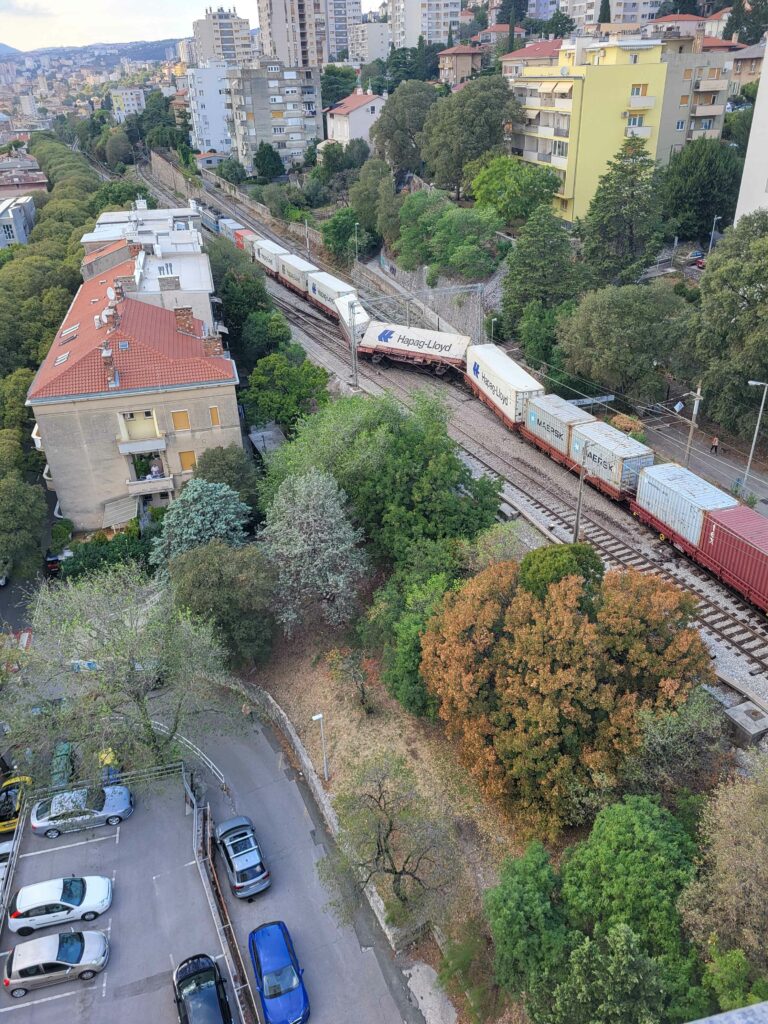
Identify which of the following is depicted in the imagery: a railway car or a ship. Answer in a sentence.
Visible in the photo is a railway car.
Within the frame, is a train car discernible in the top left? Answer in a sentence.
Yes, there is a train car in the top left.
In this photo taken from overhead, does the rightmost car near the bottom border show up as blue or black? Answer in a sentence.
The rightmost car near the bottom border looks blue in the image.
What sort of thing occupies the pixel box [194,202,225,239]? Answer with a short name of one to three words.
rail car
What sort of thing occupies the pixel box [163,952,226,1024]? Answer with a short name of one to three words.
car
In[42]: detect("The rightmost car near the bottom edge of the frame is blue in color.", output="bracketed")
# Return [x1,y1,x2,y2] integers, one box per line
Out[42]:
[245,916,311,1024]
